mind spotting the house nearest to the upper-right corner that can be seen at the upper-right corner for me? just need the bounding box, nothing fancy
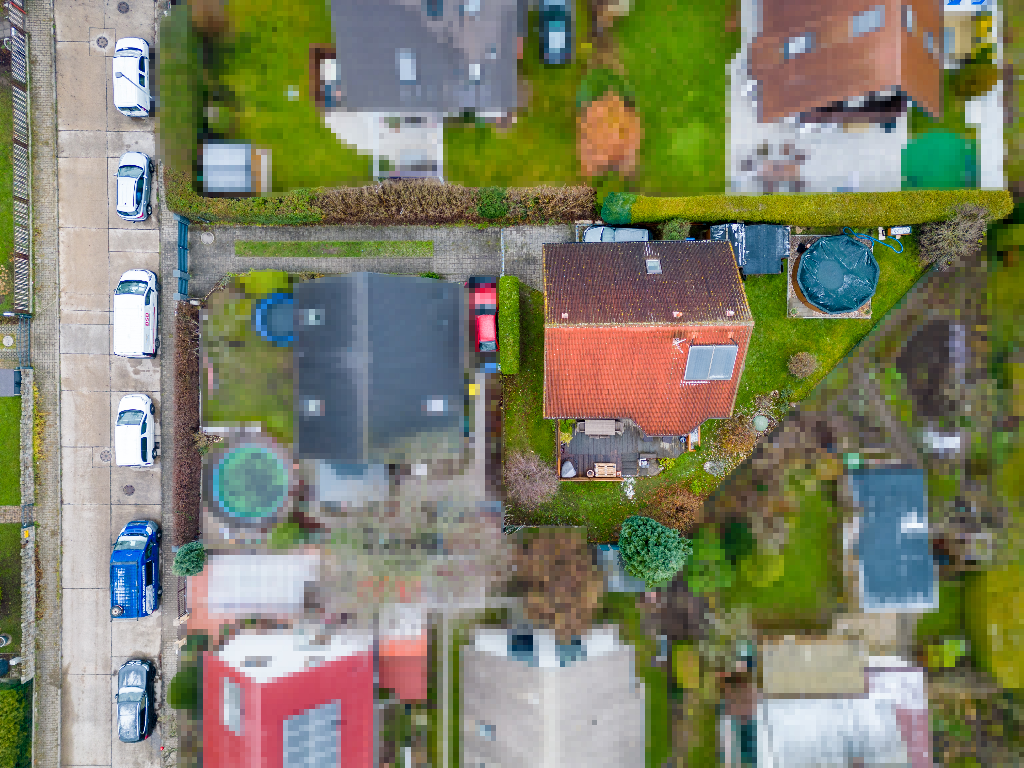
[745,0,947,127]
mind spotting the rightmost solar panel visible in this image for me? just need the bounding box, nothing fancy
[684,339,740,383]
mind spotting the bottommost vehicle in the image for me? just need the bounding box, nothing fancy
[113,658,160,744]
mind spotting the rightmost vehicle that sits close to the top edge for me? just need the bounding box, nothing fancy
[539,2,576,74]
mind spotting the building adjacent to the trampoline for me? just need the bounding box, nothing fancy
[293,271,468,466]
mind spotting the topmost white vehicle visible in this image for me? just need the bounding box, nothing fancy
[107,36,154,118]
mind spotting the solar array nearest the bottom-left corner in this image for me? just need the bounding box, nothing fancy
[286,687,342,768]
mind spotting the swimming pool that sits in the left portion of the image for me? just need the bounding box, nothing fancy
[214,444,293,519]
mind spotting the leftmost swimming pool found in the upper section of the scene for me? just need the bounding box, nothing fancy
[794,234,880,316]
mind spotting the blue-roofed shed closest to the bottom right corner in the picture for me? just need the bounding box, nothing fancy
[840,468,939,609]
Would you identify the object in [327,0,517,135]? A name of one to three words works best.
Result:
house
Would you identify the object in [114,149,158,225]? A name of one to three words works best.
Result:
car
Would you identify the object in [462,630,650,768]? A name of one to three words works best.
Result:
house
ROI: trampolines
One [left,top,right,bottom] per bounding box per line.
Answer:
[254,297,293,342]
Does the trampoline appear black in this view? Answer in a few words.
No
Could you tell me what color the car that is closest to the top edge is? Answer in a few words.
blue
